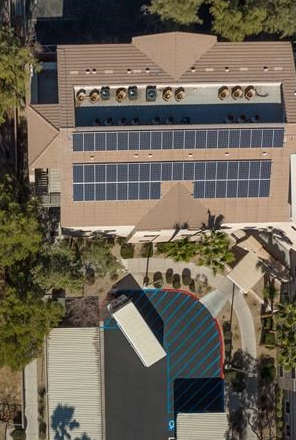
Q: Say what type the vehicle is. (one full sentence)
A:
The vehicle in the image is a truck.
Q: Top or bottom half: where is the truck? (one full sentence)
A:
You can find the truck in the bottom half.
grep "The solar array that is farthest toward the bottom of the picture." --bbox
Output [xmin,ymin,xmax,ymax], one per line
[73,160,272,201]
